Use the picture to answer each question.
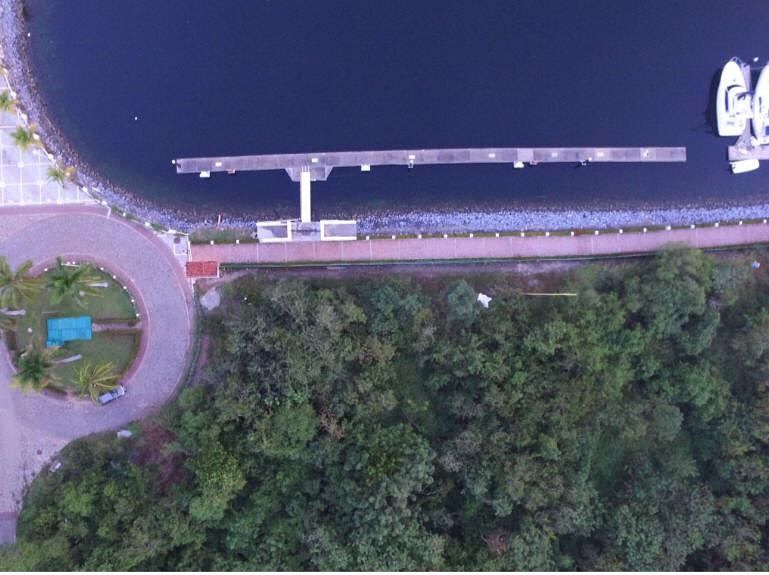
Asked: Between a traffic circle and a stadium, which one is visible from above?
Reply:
traffic circle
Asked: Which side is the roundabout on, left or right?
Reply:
left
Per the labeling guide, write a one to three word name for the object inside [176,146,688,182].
pier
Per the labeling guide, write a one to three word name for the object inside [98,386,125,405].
car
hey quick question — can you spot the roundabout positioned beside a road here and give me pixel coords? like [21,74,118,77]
[4,254,150,400]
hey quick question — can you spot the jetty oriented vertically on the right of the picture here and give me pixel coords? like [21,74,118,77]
[727,64,769,161]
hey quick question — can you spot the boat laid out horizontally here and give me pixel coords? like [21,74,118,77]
[731,160,761,173]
